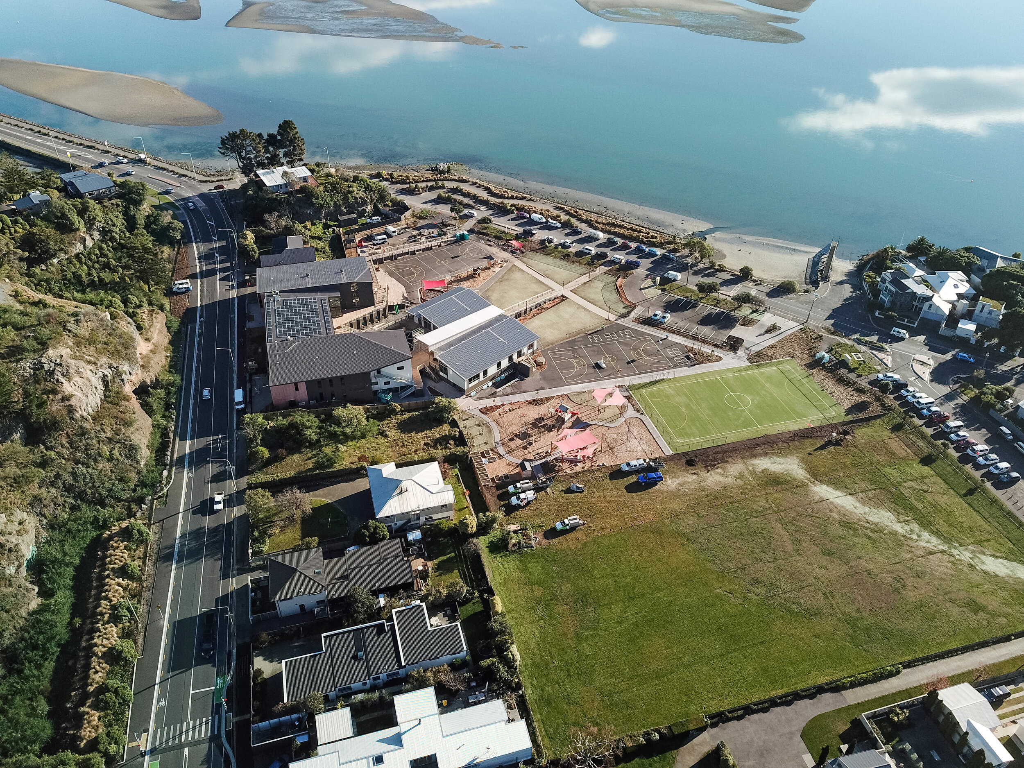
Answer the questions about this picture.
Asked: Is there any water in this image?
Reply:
Yes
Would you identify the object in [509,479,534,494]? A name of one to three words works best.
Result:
vehicle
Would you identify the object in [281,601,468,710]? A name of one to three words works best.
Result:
house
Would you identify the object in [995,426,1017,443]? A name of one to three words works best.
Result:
car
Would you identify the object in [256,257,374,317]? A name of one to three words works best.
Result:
building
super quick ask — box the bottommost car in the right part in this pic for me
[982,684,1014,703]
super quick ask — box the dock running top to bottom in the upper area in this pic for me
[820,233,841,285]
